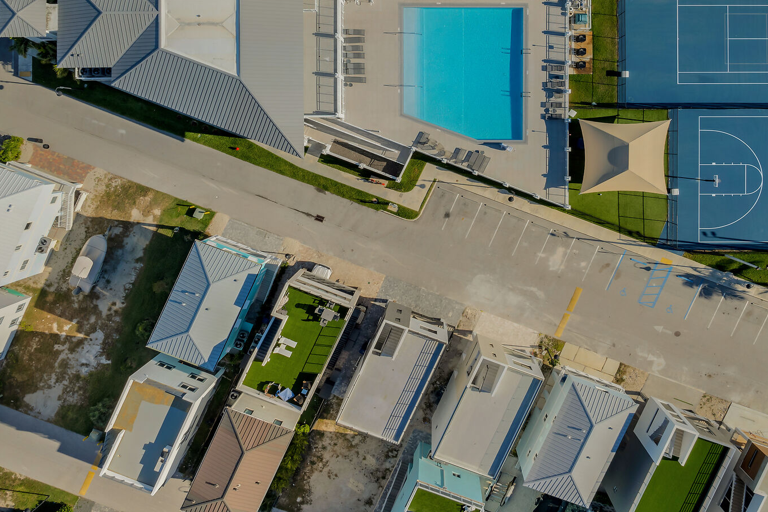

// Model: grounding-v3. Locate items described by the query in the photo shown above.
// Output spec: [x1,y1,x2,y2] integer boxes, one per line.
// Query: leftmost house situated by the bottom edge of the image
[100,353,223,495]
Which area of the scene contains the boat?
left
